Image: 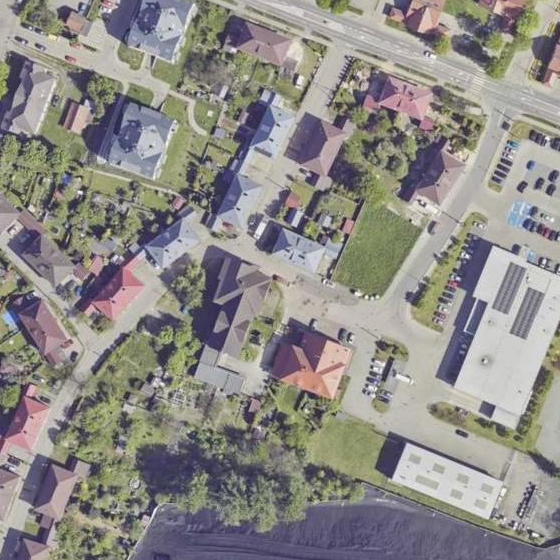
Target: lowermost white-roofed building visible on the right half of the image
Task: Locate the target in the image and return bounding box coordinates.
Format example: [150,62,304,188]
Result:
[392,443,504,519]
